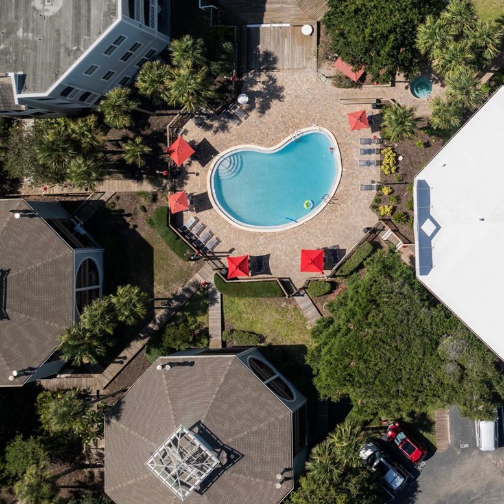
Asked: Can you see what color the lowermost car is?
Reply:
black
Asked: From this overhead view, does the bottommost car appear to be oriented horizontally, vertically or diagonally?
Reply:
diagonally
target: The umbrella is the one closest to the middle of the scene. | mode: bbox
[227,254,250,277]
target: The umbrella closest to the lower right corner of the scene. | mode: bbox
[301,250,324,273]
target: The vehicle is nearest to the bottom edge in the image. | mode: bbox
[363,444,408,495]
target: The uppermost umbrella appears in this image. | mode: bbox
[333,56,366,84]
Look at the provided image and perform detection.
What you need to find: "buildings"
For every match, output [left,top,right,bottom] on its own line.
[410,84,504,359]
[0,0,169,107]
[0,190,112,387]
[104,343,319,504]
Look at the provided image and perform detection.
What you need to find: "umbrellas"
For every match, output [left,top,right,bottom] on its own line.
[301,250,324,273]
[227,254,250,277]
[333,56,366,84]
[348,108,369,131]
[166,190,190,213]
[169,138,195,164]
